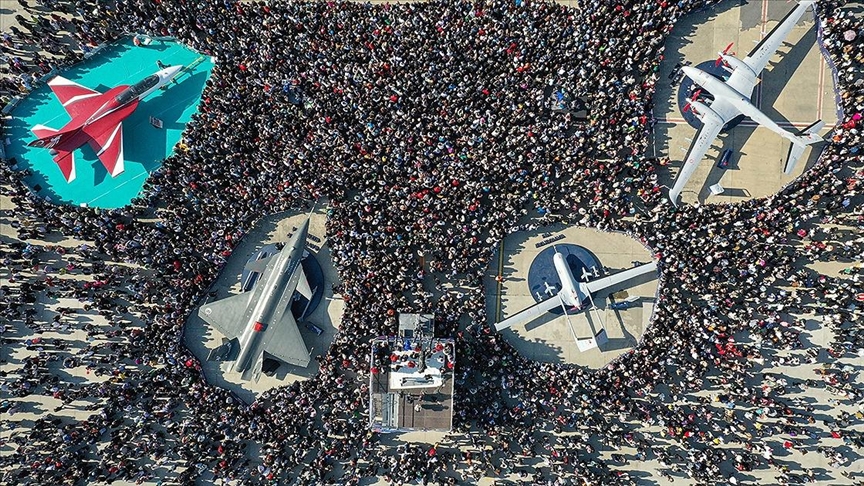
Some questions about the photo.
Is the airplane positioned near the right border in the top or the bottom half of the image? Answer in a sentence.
The top half of the photo is where the airplane positioned near the right border is.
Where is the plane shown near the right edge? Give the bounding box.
[672,0,827,208]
